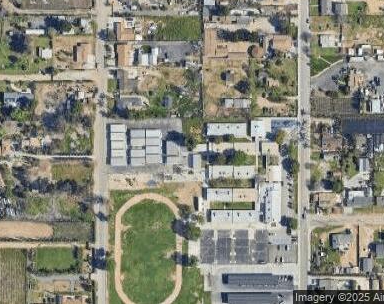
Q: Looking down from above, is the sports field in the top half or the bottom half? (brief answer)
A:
bottom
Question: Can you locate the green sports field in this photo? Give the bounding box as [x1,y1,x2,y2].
[121,198,177,304]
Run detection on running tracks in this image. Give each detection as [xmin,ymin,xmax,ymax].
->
[114,193,183,304]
